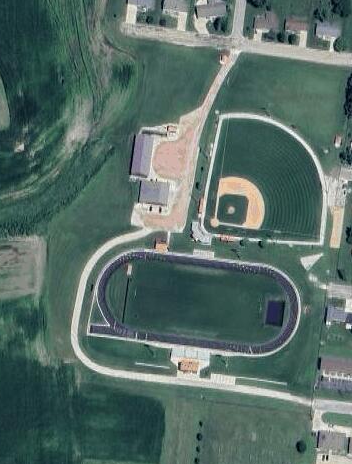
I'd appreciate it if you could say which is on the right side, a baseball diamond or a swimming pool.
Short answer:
baseball diamond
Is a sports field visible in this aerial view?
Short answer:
Yes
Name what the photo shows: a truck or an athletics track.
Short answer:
athletics track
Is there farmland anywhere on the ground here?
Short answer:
Yes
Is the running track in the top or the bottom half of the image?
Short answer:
bottom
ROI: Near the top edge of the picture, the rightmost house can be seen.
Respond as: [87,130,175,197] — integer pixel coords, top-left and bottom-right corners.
[317,22,342,39]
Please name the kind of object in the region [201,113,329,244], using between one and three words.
baseball field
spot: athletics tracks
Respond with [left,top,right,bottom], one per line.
[88,249,301,356]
